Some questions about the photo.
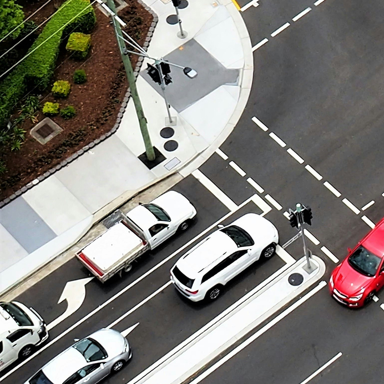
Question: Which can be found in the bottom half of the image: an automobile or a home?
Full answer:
You can see an automobile in the bottom half of the image.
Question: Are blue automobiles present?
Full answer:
No, I find no blue automobile anywhere in the image.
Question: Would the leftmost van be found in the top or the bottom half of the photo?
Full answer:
Seen from above, the leftmost van lies in the bottom half of the view.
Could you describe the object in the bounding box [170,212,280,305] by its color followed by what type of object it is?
white car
